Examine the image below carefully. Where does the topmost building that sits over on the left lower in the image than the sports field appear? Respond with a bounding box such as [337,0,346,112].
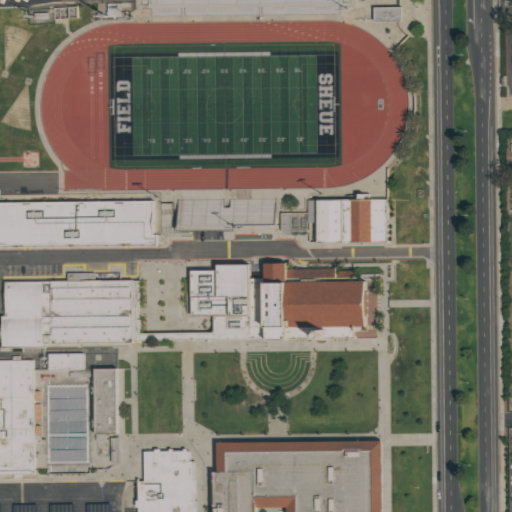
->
[0,196,162,246]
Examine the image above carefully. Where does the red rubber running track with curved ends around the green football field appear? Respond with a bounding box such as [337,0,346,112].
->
[41,22,406,190]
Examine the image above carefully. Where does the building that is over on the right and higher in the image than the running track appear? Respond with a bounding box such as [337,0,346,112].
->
[374,8,403,22]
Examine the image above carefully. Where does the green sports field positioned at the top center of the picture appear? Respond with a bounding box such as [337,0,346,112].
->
[109,42,340,168]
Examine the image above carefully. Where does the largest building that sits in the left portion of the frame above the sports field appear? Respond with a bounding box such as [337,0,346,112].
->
[106,3,134,18]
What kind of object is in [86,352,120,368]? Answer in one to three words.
shed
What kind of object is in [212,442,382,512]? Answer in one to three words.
building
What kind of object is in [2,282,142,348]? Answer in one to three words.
building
